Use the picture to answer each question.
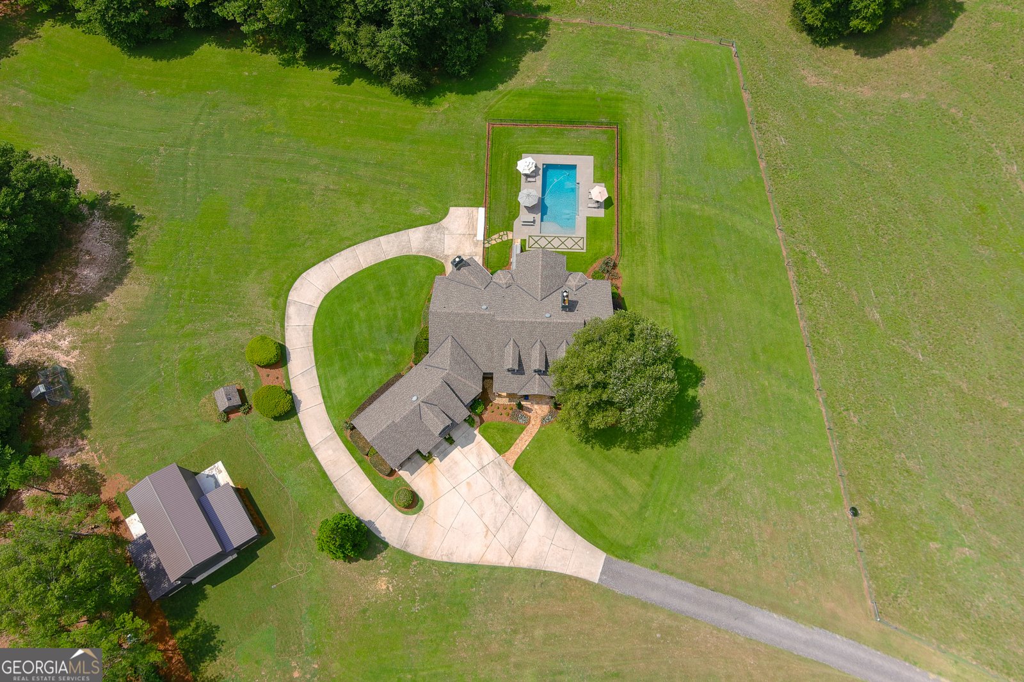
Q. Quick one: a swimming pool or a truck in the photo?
swimming pool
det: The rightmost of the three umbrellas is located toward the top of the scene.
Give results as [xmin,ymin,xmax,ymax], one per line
[589,187,607,202]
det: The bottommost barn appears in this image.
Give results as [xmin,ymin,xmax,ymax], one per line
[127,465,260,601]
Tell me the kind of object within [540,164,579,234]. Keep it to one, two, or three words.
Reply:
swimming pool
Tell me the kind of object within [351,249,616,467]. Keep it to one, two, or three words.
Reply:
house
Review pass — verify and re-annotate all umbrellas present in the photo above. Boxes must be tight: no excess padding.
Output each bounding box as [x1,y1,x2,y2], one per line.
[589,187,607,202]
[517,160,535,176]
[518,190,538,208]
